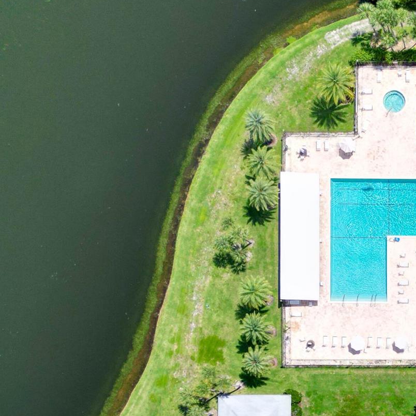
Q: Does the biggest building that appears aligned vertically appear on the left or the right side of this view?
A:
right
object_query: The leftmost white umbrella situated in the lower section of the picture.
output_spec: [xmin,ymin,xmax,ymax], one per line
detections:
[350,335,366,352]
